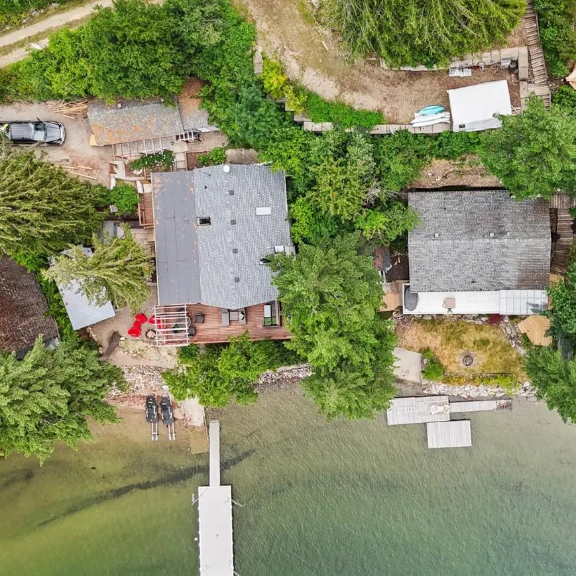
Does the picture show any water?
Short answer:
Yes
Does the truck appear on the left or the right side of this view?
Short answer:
left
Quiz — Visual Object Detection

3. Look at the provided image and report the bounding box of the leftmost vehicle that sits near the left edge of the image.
[0,114,63,146]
